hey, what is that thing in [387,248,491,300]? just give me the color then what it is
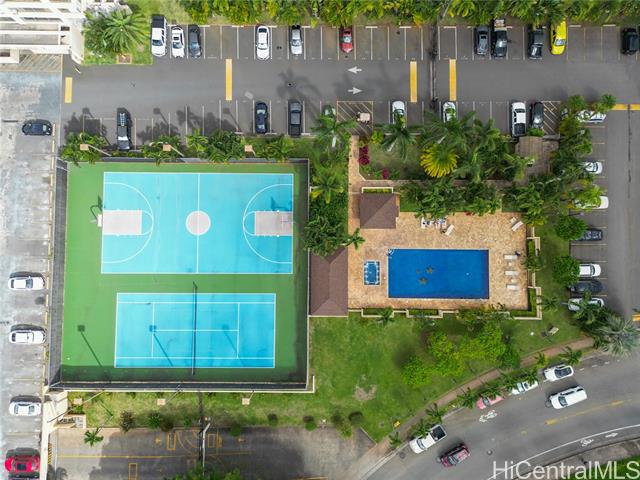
blue swimming pool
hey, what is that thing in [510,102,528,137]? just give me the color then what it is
white vehicle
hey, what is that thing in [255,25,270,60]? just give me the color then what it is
white car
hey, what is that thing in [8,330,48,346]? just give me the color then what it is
white car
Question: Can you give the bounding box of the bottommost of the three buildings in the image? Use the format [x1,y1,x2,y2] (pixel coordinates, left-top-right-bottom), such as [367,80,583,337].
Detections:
[309,247,348,316]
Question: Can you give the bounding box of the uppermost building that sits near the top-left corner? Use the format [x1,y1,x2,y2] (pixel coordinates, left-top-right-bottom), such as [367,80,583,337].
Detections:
[0,0,96,68]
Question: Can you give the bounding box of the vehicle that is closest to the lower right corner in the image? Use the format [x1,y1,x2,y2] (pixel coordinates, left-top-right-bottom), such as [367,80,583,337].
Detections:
[548,386,589,410]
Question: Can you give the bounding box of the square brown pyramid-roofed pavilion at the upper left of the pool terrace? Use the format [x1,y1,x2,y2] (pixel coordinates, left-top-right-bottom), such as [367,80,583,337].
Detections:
[360,193,396,229]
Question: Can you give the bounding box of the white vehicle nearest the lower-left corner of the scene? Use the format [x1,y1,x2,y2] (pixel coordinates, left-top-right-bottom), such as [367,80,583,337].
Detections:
[7,400,43,418]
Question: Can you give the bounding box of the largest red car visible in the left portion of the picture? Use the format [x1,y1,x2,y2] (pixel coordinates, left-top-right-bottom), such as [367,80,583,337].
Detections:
[4,455,42,475]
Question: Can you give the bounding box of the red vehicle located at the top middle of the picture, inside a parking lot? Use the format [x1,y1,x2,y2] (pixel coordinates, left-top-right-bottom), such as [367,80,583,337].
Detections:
[339,26,354,54]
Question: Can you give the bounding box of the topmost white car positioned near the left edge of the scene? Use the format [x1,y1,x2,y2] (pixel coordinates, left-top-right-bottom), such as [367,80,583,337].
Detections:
[8,275,47,291]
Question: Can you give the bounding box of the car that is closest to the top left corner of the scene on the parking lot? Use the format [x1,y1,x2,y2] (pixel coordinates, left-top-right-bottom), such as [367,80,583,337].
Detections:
[21,120,53,136]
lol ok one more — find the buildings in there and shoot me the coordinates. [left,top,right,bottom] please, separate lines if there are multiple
[360,193,396,229]
[309,247,348,316]
[0,0,96,68]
